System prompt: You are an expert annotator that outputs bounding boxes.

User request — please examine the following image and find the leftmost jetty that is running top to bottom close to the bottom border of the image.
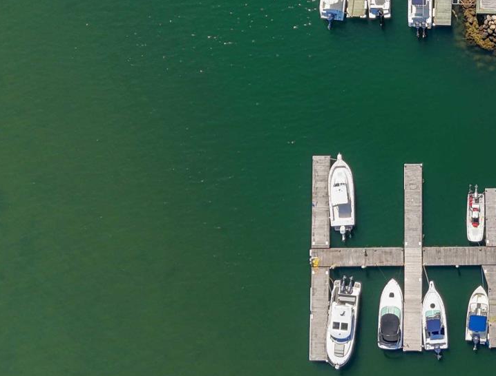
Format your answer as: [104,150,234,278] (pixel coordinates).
[308,267,330,362]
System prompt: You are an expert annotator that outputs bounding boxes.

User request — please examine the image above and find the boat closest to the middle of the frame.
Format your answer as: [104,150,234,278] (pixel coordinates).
[328,152,357,240]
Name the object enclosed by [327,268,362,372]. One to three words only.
boat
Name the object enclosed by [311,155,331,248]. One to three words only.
pier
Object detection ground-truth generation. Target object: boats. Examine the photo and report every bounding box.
[408,0,433,39]
[377,267,405,350]
[465,181,487,246]
[327,268,362,372]
[319,0,349,32]
[466,280,491,354]
[328,152,357,240]
[367,0,390,29]
[422,266,447,363]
